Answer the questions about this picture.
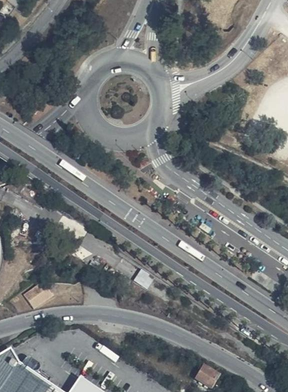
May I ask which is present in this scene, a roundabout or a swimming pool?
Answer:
roundabout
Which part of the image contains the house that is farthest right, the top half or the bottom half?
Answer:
bottom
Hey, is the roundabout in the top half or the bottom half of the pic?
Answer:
top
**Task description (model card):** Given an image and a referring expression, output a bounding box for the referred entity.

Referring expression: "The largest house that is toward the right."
[194,363,220,387]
